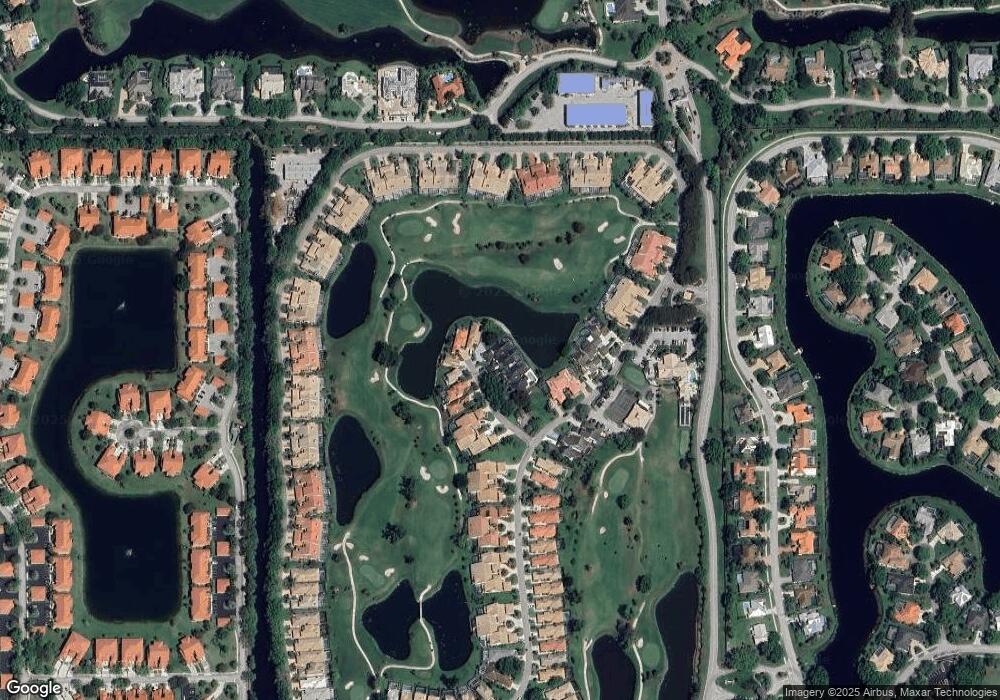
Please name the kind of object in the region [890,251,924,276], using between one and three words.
house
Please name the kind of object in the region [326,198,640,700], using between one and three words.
golf course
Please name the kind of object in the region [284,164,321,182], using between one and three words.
building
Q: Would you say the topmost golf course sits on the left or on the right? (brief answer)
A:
left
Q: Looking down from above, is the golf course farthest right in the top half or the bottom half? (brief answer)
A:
bottom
